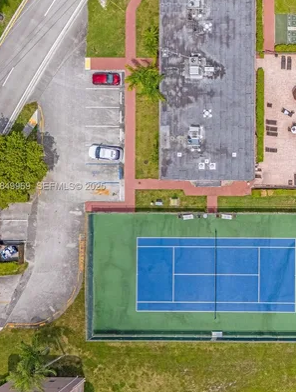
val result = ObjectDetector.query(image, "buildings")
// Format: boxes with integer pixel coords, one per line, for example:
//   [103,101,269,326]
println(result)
[0,378,85,392]
[160,0,257,186]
